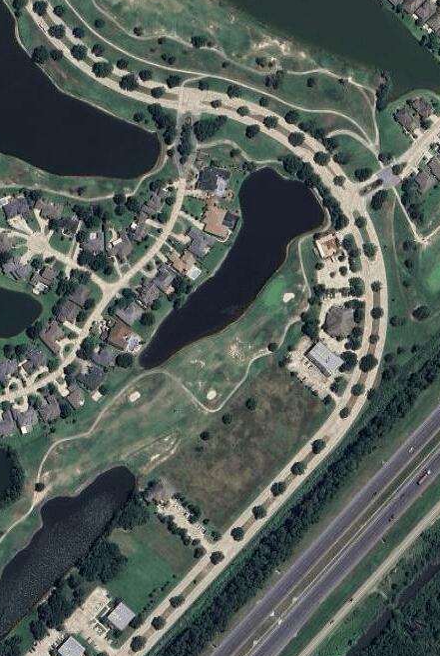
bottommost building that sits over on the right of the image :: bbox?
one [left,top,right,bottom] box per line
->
[307,341,341,376]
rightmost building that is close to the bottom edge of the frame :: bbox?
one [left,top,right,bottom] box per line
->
[109,603,136,630]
